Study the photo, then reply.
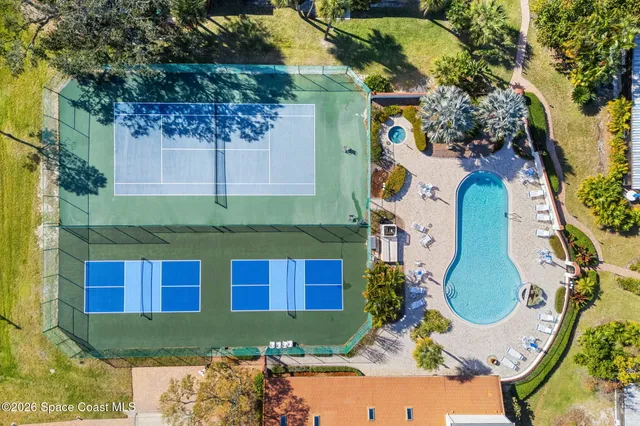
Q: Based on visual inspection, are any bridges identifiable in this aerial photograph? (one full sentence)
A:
No, the picture doesn't show any bridge.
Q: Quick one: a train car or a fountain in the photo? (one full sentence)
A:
Of the two, only a fountain appears.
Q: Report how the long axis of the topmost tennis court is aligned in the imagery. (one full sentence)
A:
In this picture, the topmost tennis court lies from left to right.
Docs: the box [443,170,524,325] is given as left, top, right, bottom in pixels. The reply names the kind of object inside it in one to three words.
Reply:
swimming pool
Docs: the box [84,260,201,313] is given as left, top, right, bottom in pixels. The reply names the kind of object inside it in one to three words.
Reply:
sports court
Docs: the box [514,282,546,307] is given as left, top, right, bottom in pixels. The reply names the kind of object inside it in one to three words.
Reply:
fountain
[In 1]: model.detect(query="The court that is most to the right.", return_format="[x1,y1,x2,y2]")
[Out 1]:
[231,259,343,312]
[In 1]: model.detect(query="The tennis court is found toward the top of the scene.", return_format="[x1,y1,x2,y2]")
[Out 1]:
[114,102,315,196]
